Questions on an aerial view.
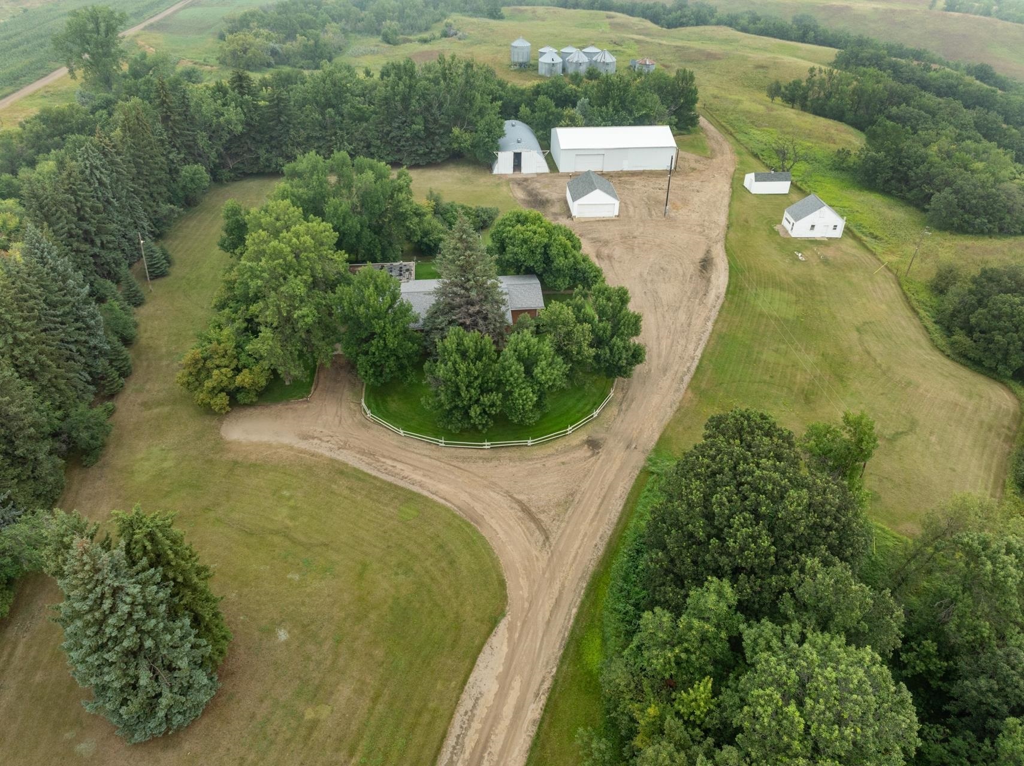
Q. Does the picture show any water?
No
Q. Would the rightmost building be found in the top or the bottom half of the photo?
top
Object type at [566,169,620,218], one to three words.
building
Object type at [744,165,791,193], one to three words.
shed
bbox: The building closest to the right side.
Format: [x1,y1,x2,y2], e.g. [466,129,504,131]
[779,192,845,237]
